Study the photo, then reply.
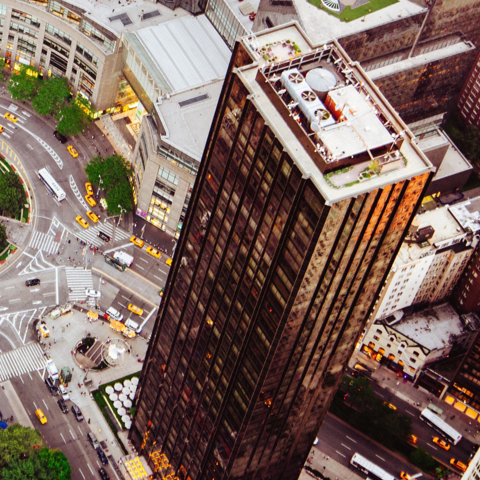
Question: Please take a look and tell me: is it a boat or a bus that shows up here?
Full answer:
Of the two, only a bus appears.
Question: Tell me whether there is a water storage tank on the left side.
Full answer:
No, on the left side there is no water storage tank.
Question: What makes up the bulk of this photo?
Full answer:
Most of the picture is covered by buildings.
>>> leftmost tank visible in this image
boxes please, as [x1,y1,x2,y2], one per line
[305,64,333,98]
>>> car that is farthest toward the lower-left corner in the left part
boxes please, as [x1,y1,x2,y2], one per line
[34,410,49,424]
